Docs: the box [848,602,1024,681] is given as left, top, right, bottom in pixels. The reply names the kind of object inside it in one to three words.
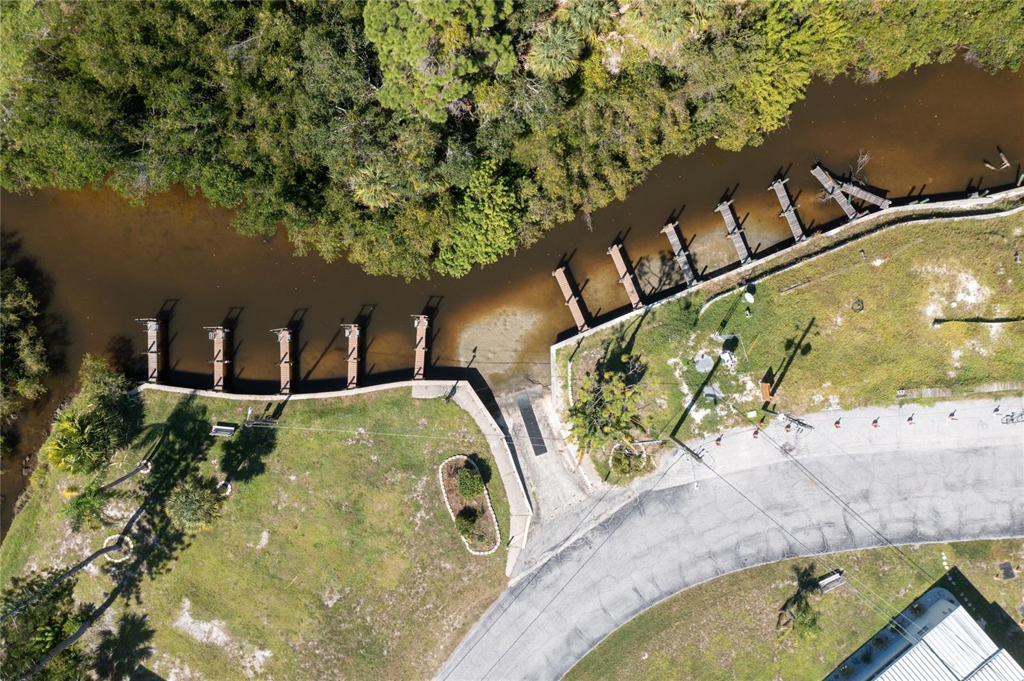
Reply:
house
